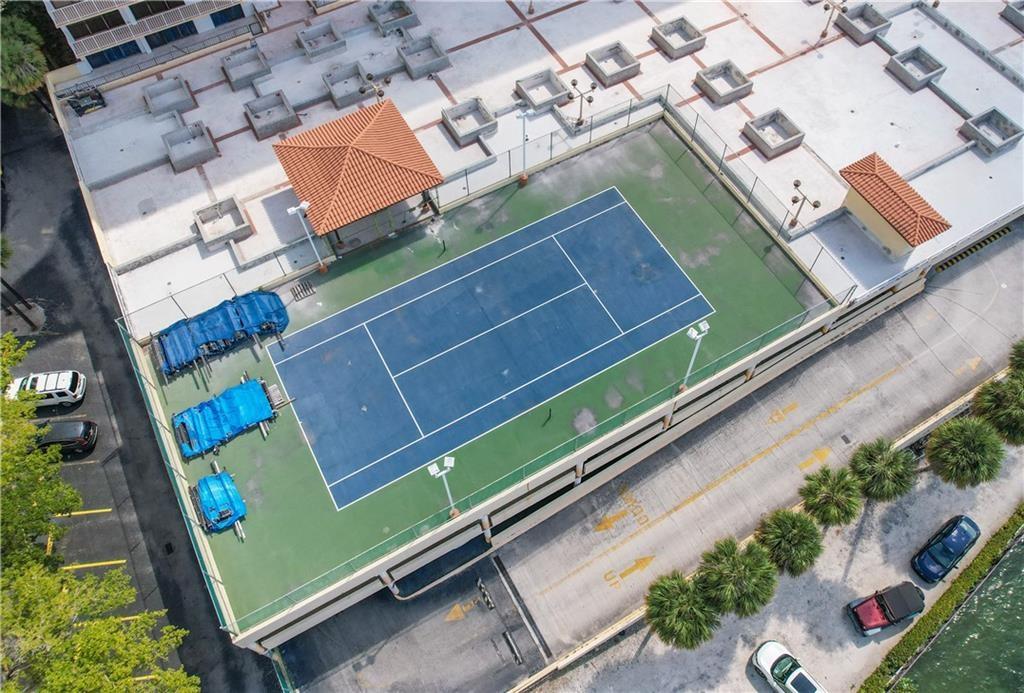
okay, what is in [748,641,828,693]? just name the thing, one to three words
car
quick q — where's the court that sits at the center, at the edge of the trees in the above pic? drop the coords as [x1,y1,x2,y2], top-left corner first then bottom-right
[153,119,838,629]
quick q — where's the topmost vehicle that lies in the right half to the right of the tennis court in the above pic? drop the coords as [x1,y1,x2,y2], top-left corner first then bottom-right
[909,512,983,588]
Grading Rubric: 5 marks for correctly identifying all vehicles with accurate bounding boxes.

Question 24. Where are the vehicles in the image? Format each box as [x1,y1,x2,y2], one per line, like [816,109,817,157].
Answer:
[748,641,828,693]
[29,424,99,460]
[844,580,930,636]
[5,377,88,416]
[909,512,983,588]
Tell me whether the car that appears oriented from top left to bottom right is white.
Yes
